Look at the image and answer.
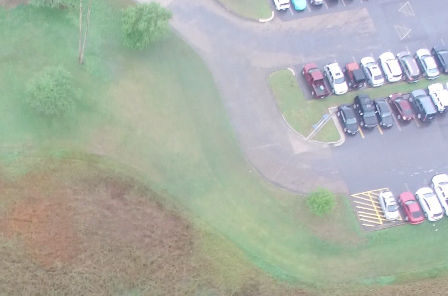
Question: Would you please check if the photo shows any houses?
No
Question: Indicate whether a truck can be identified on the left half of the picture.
No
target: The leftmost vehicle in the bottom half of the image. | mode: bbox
[375,188,401,222]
